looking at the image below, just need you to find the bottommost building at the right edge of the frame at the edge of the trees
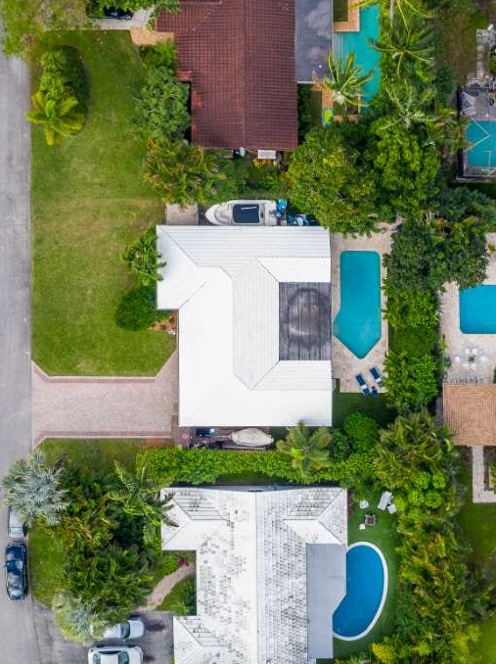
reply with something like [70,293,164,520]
[440,381,496,447]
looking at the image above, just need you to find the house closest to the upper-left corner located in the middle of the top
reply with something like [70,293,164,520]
[154,0,334,152]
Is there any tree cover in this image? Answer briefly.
Yes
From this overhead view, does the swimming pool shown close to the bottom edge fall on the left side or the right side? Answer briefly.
right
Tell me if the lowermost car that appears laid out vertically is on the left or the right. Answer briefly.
left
